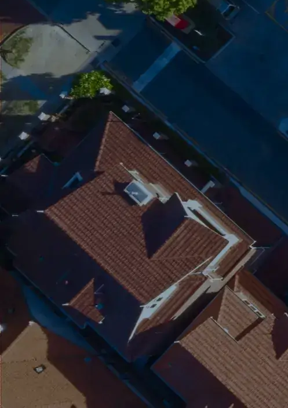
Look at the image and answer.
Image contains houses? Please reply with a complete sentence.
Yes, this view includes a house.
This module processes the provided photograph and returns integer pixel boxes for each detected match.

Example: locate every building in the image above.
[152,271,288,408]
[0,111,258,361]
[0,282,161,408]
